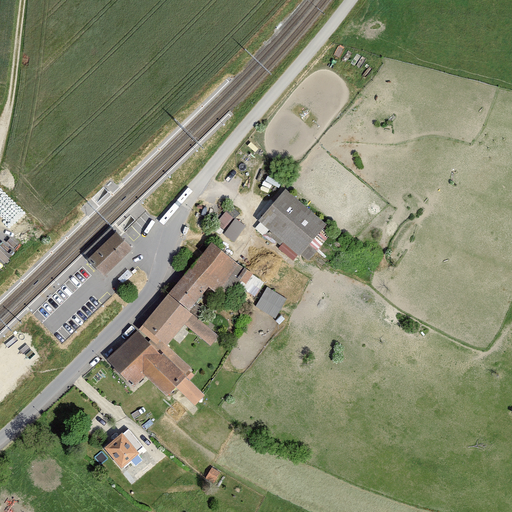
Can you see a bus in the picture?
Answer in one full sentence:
Yes, I can see a bus in this picture.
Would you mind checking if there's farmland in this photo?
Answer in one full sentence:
Yes, there is farmland in the image.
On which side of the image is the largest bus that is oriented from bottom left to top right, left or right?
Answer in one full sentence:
The largest bus that is oriented from bottom left to top right appears in the left half of the scene.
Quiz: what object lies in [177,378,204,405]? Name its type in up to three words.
building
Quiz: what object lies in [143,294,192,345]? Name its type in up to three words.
house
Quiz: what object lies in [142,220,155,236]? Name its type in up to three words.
vehicle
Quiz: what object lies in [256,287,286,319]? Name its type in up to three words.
shed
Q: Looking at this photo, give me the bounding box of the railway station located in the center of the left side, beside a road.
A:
[0,76,232,341]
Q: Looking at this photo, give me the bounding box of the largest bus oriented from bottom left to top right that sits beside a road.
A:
[159,186,194,224]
